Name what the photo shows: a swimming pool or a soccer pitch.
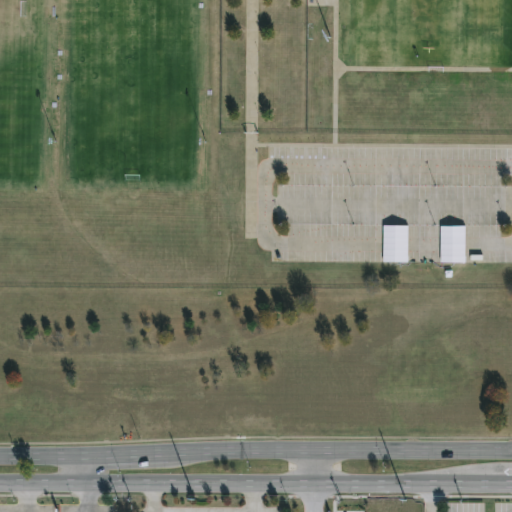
soccer pitch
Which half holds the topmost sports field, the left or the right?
right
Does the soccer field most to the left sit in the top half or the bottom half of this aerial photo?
top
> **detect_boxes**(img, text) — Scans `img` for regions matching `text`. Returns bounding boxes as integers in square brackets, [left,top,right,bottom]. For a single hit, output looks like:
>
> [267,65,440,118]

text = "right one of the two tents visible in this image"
[440,226,466,263]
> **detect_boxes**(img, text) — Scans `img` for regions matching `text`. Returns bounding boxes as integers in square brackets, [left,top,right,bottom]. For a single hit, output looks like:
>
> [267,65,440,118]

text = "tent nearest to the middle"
[383,225,409,262]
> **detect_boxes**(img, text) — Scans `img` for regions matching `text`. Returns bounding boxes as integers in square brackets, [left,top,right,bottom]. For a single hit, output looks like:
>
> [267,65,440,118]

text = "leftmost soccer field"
[0,0,48,192]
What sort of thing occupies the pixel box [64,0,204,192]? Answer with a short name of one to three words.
soccer field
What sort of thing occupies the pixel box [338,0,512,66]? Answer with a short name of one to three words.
sports field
